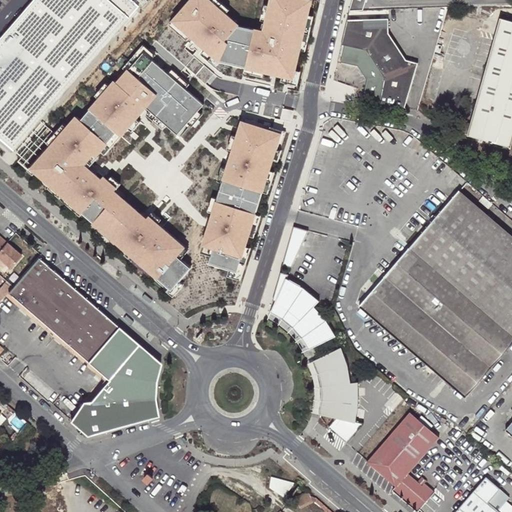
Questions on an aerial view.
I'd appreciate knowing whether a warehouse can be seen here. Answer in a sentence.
Yes, a warehouse is visible in the scene.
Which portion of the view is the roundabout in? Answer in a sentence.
Look in the bottom portion of the view to spot the roundabout.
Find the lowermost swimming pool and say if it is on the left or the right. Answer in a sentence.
The lowermost swimming pool is on the left side of the image.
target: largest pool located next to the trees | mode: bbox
[8,412,29,434]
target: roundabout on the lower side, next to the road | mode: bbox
[176,338,292,456]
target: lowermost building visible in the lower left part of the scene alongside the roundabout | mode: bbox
[72,328,163,438]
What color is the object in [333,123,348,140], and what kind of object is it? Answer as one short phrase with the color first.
white vehicle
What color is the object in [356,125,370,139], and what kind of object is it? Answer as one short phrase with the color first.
white vehicle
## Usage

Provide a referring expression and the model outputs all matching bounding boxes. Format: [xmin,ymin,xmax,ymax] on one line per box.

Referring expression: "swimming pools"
[8,412,29,434]
[101,62,111,72]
